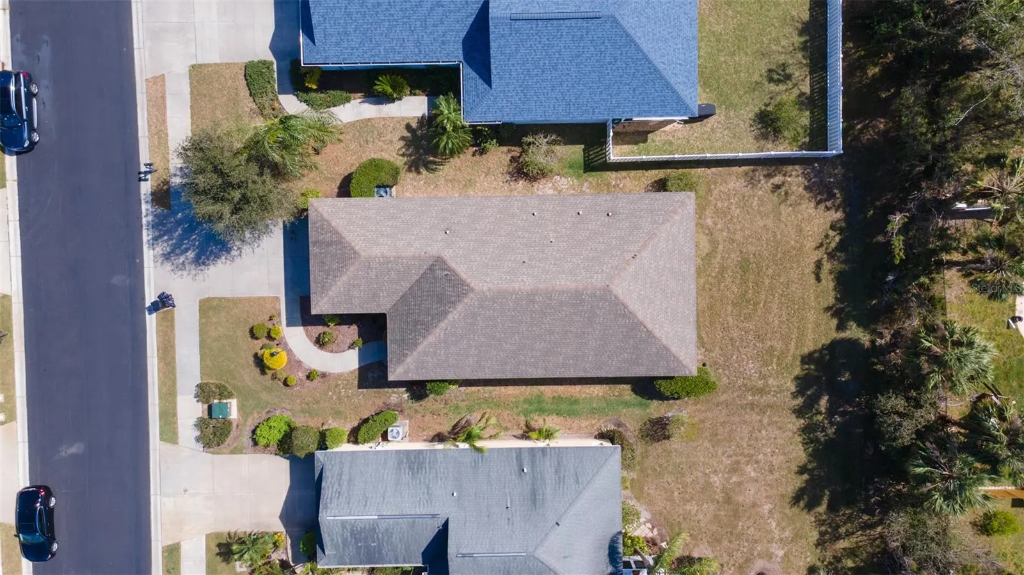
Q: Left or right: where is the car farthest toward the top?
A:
left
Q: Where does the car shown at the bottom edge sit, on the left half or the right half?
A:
left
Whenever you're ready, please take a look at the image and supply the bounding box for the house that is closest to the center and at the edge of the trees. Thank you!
[308,192,699,381]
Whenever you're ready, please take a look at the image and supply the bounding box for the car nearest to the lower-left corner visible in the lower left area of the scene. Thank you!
[13,484,58,562]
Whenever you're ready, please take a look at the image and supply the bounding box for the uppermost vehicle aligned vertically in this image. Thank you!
[0,67,38,151]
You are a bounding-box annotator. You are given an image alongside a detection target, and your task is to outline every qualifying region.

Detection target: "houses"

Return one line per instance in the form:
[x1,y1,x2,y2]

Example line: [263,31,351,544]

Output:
[308,192,699,381]
[314,437,624,575]
[300,0,704,127]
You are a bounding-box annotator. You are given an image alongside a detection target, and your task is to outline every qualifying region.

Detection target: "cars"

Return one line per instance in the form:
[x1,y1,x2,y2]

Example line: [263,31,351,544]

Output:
[13,484,58,562]
[0,67,38,151]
